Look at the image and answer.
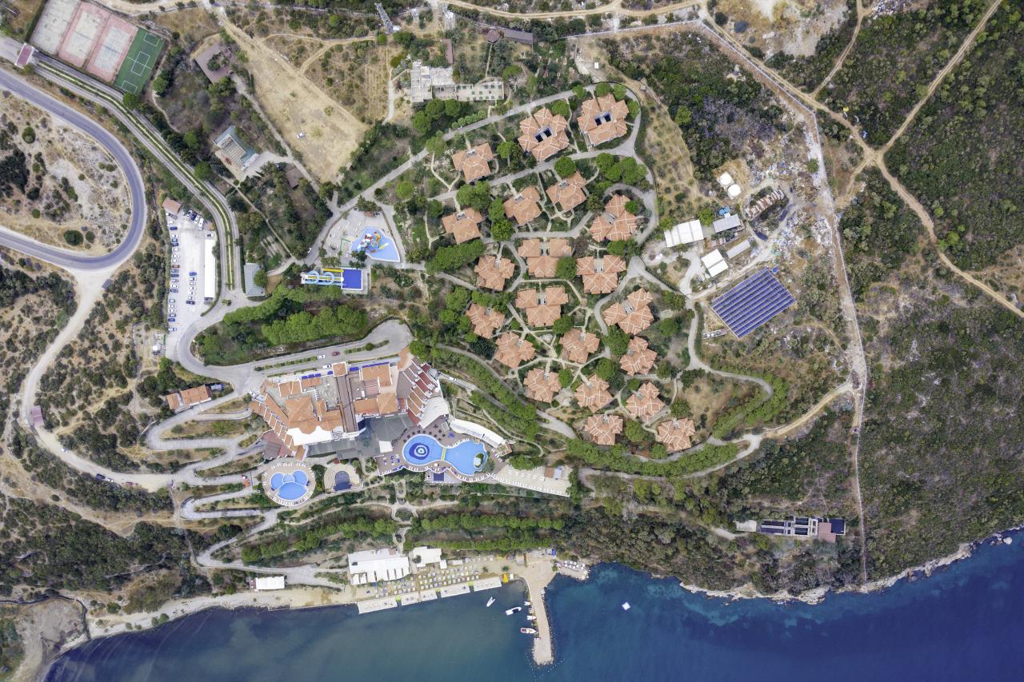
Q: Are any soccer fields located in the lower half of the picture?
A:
No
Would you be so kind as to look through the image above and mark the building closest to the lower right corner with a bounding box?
[736,517,844,543]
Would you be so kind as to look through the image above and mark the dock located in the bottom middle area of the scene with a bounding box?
[517,561,556,665]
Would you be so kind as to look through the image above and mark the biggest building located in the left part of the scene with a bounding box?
[250,347,440,460]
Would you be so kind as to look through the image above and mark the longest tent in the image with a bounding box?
[453,420,505,448]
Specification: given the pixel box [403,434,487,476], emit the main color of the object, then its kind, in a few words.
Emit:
blue swimming pool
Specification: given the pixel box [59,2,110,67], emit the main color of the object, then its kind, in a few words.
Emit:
white tennis court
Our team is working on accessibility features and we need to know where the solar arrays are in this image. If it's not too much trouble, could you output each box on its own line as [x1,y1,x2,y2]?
[711,269,794,339]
